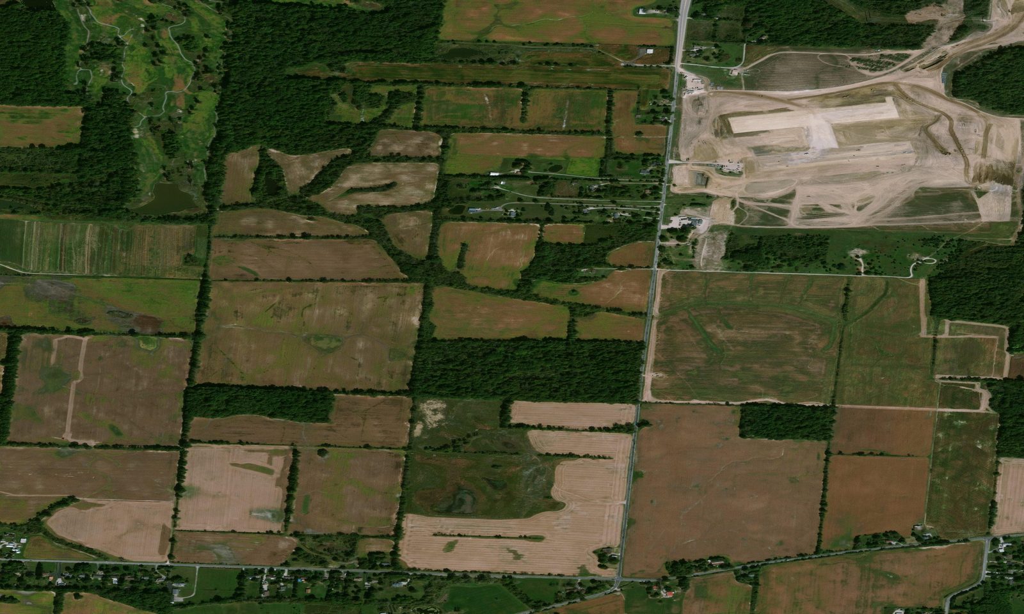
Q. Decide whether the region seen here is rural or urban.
rural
